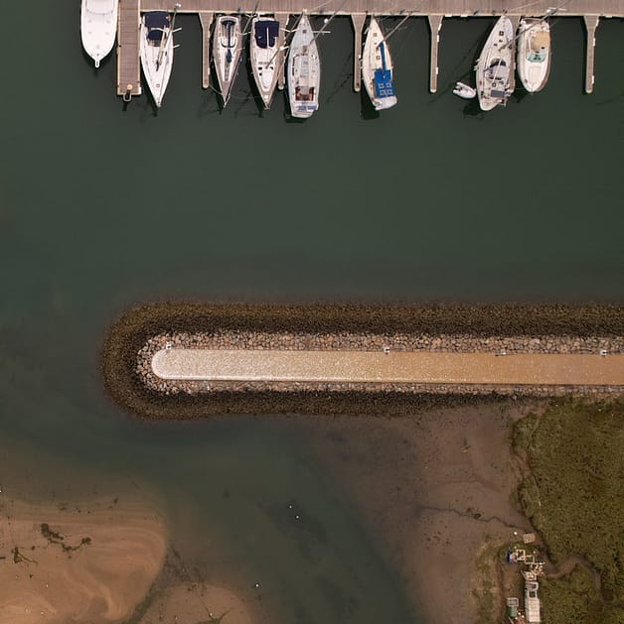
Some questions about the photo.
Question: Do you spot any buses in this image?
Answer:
No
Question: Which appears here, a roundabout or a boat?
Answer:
boat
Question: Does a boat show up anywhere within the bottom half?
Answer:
No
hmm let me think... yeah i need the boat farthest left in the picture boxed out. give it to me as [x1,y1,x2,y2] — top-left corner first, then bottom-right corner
[80,0,117,67]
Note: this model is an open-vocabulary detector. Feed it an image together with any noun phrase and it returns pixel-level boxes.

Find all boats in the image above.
[513,18,551,92]
[449,81,476,97]
[285,0,346,121]
[363,0,429,112]
[249,6,306,108]
[141,0,183,107]
[212,1,260,107]
[476,0,574,116]
[80,0,117,67]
